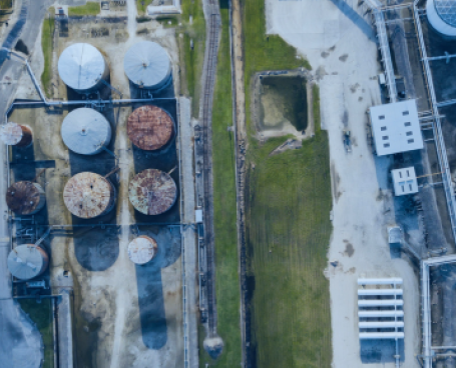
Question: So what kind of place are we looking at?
industrial area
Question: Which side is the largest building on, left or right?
right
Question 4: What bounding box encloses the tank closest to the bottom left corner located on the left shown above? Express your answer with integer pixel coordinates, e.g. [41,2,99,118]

[8,242,51,280]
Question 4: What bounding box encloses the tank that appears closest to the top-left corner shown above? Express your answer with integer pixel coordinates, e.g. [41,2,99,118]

[58,43,111,94]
